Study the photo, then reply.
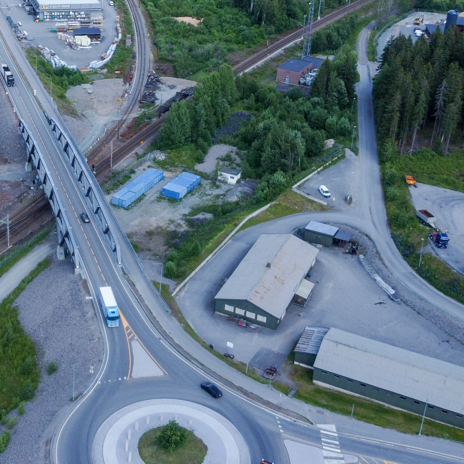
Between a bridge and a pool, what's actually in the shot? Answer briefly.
bridge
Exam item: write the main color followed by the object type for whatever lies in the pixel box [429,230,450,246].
blue vehicle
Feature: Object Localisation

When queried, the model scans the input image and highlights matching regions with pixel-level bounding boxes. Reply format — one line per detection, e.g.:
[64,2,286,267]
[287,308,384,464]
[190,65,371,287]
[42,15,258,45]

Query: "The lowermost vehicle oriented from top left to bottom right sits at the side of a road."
[200,378,225,396]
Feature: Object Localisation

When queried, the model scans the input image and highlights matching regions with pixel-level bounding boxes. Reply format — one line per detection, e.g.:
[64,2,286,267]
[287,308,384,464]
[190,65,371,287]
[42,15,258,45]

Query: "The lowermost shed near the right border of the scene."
[310,326,464,422]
